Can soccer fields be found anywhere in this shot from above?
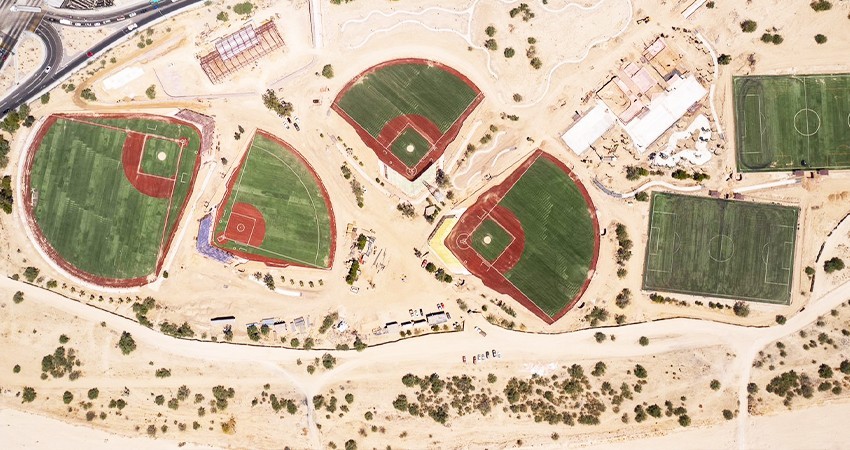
Yes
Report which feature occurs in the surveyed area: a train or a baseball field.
baseball field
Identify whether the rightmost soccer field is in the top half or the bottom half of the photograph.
top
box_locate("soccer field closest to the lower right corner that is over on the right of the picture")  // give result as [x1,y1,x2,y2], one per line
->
[642,192,799,305]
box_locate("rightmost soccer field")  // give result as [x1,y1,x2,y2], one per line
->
[732,72,850,173]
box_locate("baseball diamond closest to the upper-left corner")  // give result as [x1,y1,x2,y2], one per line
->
[25,113,202,288]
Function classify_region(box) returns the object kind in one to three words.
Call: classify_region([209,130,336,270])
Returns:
baseball field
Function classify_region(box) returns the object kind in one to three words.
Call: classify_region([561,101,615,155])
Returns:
building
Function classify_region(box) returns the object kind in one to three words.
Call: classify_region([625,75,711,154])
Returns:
building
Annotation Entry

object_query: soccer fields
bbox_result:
[642,192,799,305]
[732,72,850,173]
